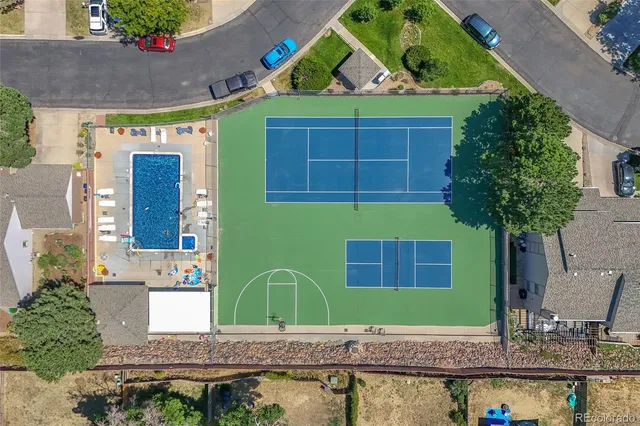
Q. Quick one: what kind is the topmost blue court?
tennis court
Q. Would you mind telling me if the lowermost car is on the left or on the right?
right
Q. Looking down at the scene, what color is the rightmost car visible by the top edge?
blue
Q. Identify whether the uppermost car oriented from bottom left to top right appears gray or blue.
blue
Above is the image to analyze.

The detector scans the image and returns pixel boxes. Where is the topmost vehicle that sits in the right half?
[462,14,501,49]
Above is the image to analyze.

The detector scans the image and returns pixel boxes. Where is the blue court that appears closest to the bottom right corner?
[346,240,452,289]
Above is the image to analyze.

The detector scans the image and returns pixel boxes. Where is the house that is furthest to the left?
[0,166,82,307]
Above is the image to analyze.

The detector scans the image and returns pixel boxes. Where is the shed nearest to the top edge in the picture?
[338,48,381,91]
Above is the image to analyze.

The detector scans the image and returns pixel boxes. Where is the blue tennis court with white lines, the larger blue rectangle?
[265,116,453,204]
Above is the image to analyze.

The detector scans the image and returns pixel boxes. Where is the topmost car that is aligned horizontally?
[138,34,176,52]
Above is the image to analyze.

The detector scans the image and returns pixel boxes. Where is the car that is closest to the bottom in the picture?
[614,160,636,196]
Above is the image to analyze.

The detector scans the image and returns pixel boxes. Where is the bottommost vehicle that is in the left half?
[209,70,258,99]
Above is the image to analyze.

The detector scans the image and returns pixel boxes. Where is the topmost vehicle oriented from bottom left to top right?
[261,37,298,70]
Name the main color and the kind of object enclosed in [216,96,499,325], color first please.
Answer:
green sports court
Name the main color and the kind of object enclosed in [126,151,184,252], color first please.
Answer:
blue swimming pool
